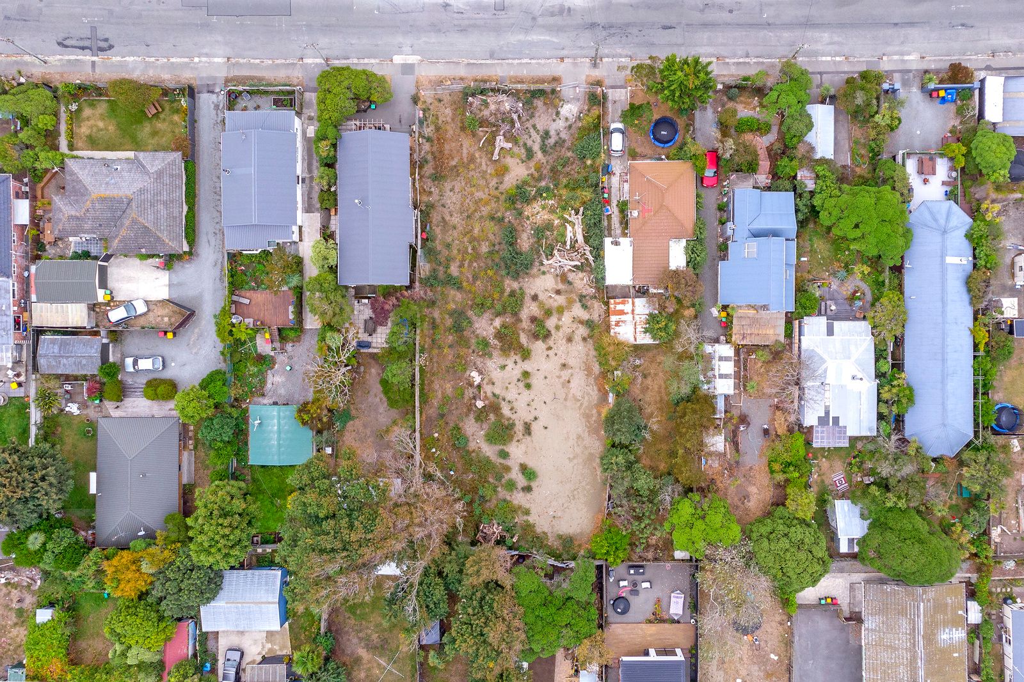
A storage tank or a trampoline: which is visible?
trampoline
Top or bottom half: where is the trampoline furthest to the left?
top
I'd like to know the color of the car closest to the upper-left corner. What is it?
white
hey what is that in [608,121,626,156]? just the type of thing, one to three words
car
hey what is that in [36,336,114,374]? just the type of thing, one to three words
shed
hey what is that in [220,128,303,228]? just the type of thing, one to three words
house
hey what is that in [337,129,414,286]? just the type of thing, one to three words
house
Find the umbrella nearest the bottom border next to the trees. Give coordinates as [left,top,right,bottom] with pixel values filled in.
[669,591,684,620]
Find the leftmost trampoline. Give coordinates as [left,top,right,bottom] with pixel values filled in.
[648,111,683,147]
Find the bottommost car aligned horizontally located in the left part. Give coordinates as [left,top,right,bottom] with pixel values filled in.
[123,355,163,372]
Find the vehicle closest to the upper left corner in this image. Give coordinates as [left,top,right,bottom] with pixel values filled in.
[105,297,147,326]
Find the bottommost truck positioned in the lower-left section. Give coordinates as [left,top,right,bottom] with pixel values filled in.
[220,647,242,682]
